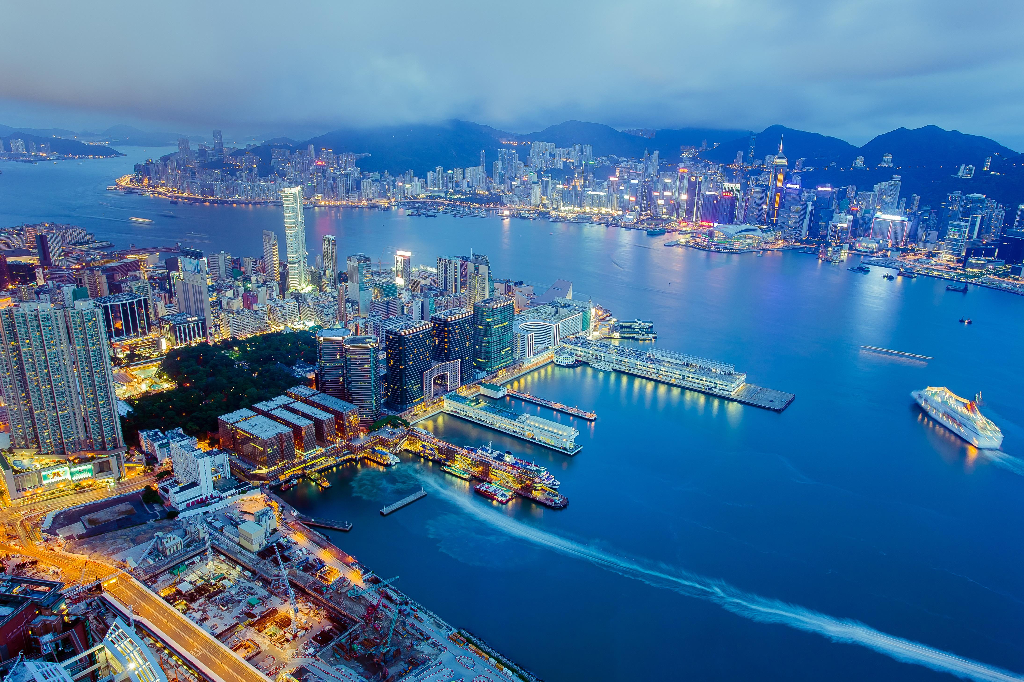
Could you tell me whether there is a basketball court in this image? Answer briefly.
No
